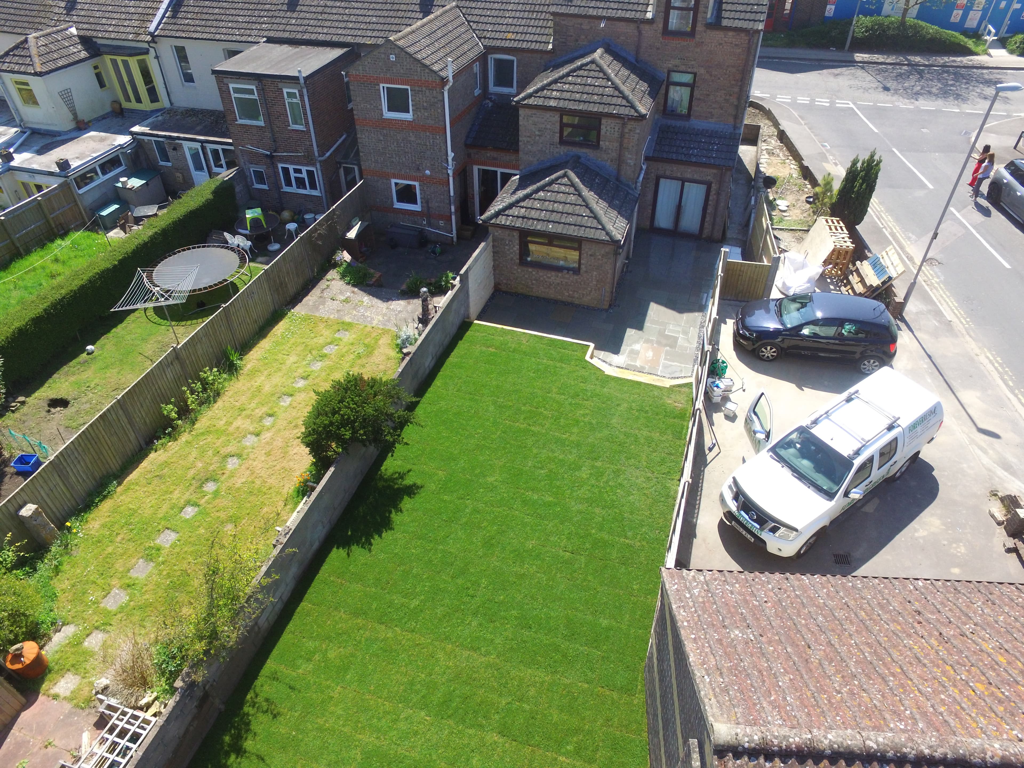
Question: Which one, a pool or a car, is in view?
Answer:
car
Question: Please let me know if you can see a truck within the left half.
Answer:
No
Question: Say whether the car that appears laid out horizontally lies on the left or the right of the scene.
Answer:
right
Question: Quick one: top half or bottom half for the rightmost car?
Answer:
top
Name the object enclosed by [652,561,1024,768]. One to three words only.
building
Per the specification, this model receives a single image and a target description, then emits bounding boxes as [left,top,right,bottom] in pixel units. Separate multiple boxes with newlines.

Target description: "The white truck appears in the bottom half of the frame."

[715,369,945,566]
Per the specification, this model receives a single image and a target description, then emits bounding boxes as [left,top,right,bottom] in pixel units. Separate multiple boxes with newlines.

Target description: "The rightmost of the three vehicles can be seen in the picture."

[987,162,1024,235]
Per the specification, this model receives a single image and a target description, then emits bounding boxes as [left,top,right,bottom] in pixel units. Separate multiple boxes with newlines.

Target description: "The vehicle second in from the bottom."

[738,293,905,375]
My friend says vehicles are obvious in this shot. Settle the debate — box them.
[715,369,945,566]
[738,293,905,375]
[987,162,1024,235]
